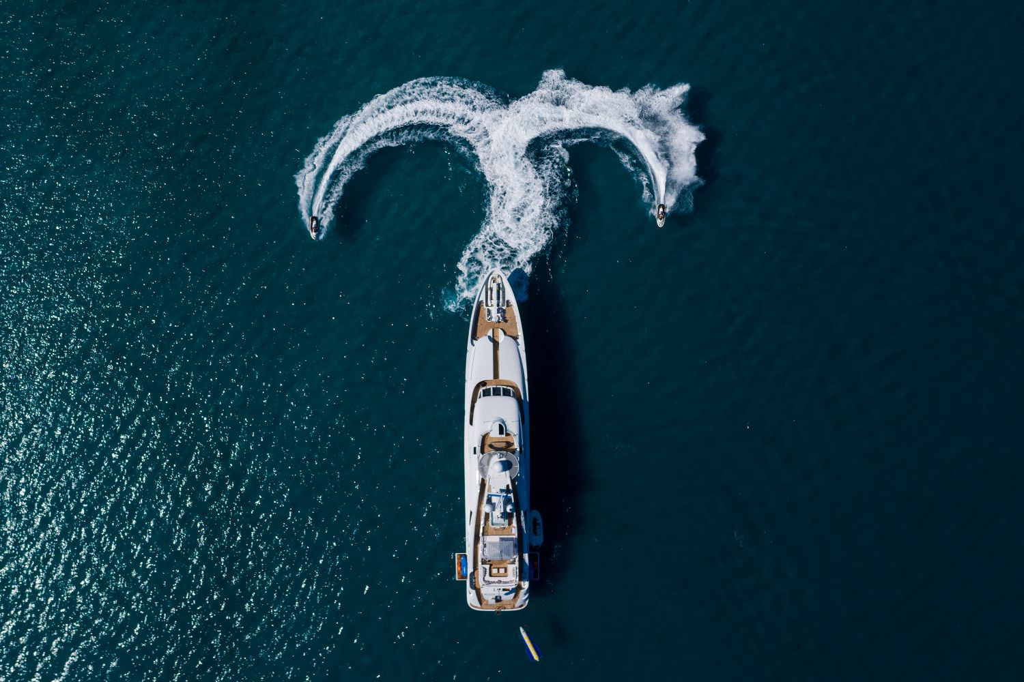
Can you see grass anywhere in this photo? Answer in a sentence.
No, there is no grass in the image.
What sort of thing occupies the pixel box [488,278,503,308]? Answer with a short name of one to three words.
boat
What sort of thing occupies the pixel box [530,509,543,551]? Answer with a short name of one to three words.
boat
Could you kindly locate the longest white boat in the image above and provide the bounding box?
[455,269,539,615]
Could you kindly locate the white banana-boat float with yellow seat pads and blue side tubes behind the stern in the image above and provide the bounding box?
[521,628,543,663]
